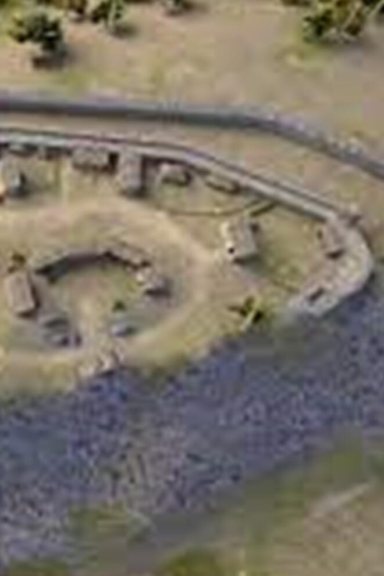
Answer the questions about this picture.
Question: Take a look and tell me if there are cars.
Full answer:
No, there's no car here.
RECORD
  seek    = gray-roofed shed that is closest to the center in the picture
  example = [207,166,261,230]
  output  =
[138,272,172,302]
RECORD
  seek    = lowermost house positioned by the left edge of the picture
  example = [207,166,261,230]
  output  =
[0,273,44,326]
